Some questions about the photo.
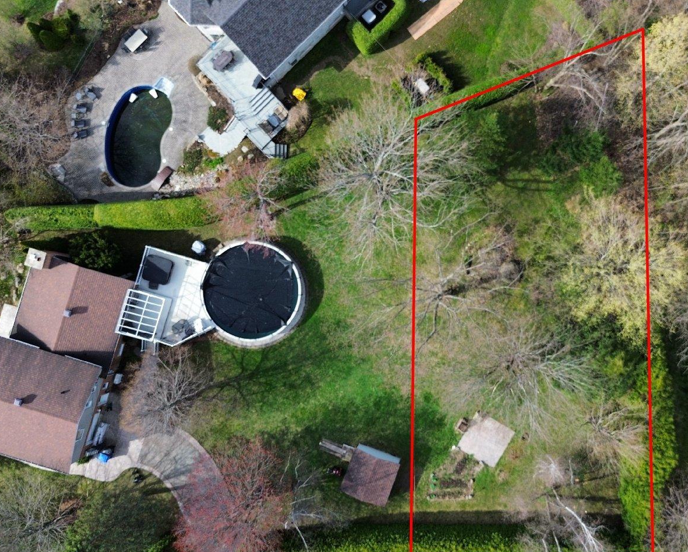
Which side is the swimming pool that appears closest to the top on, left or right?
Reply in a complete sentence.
The swimming pool that appears closest to the top is on the left side of the image.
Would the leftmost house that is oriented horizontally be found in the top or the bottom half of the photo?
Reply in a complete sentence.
You can find the leftmost house that is oriented horizontally in the top half.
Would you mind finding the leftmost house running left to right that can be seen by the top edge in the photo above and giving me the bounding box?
[165,0,362,87]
